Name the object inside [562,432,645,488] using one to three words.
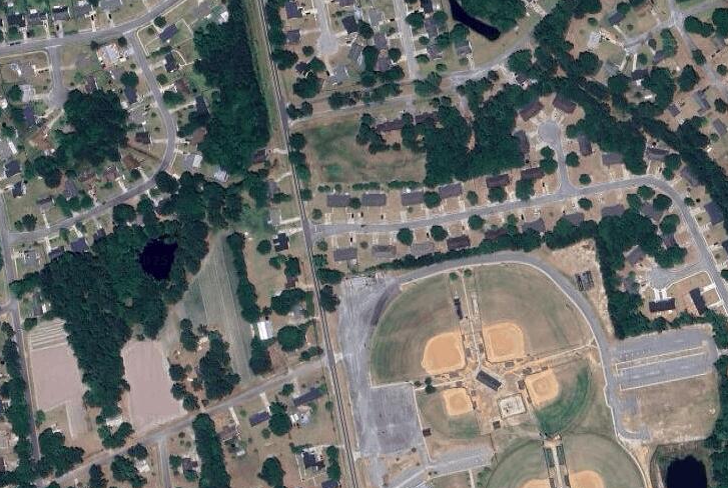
baseball field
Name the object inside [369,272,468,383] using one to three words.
baseball field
